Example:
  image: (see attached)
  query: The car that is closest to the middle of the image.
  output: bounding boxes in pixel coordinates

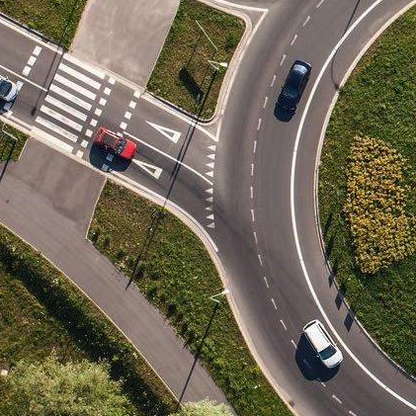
[93,127,136,158]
